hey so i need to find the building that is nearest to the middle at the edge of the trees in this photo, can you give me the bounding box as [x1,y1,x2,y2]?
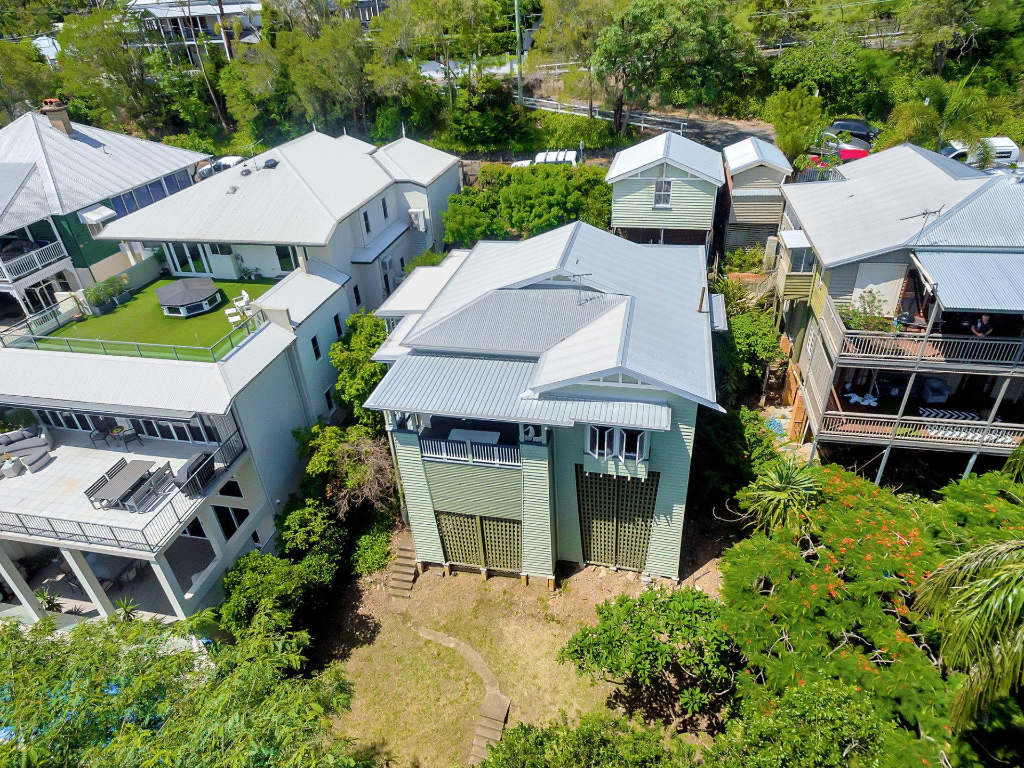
[357,216,737,591]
